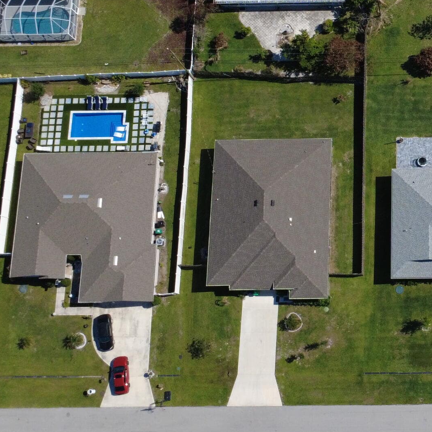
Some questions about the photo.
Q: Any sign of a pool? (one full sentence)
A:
Yes, there's a pool down there.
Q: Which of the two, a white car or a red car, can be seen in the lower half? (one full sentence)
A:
What appears in the lower half is a red car.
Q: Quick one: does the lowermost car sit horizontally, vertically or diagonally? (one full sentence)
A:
From this overhead view, the lowermost car appears to run vertically.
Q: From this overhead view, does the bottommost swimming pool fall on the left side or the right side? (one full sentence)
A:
You can find the bottommost swimming pool on the left side of the picture.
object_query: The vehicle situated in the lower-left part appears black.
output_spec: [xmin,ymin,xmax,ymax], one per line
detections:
[94,314,115,353]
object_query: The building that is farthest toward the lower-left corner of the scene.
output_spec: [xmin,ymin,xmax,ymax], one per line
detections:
[8,152,161,303]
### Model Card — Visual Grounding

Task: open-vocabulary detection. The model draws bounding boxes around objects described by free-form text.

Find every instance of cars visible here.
[94,314,115,353]
[109,356,130,396]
